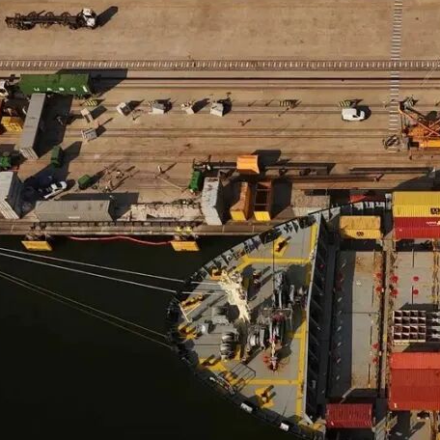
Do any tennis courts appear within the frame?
No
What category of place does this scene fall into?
port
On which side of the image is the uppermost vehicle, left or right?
left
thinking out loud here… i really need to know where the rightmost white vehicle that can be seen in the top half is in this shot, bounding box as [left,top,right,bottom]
[341,109,369,124]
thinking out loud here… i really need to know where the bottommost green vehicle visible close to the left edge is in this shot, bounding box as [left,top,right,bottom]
[0,156,16,171]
